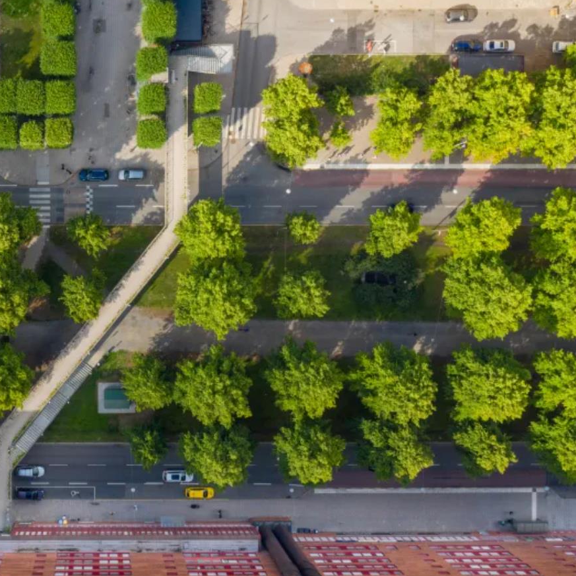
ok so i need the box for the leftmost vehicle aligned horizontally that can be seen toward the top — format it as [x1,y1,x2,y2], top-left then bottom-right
[79,167,109,181]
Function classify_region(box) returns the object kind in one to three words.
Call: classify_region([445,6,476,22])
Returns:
car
